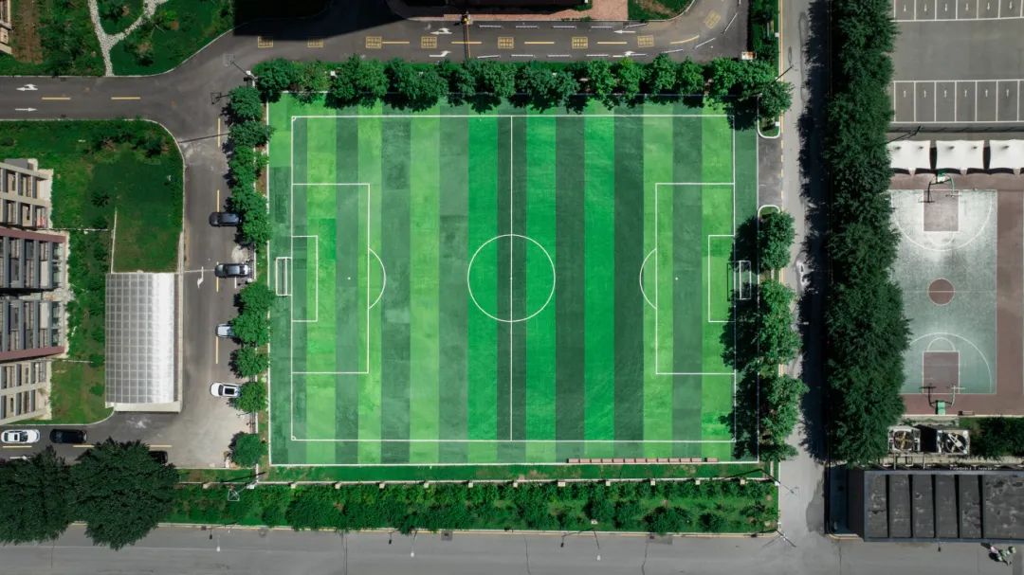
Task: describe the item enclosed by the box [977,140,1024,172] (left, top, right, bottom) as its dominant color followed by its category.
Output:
white tent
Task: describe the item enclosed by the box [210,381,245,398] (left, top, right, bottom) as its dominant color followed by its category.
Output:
white car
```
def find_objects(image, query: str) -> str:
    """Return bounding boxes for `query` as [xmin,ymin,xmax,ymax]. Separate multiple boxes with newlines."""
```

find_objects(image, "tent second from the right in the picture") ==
[926,140,983,172]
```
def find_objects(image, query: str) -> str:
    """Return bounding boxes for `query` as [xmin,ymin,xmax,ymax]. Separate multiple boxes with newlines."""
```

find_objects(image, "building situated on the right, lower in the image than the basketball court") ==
[849,461,1024,552]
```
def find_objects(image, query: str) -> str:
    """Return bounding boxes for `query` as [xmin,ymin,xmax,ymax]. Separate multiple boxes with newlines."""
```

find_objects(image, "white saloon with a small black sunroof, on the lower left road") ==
[2,429,40,446]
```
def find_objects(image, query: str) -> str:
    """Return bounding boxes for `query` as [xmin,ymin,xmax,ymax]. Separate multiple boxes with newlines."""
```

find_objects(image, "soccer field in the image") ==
[270,94,758,465]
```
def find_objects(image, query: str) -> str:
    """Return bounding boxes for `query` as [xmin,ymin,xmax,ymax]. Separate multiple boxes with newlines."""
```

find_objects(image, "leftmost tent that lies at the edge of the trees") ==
[887,140,930,172]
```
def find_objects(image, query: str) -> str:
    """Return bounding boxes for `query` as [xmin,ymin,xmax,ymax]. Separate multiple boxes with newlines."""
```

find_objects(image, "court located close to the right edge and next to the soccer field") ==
[878,170,1024,415]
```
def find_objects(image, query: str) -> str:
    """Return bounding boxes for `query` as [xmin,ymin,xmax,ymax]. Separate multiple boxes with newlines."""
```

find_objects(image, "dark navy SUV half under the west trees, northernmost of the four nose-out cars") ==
[209,210,244,227]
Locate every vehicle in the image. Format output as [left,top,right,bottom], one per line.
[2,429,40,446]
[216,262,252,279]
[50,429,88,446]
[209,210,244,227]
[217,323,234,339]
[210,381,245,398]
[137,449,173,464]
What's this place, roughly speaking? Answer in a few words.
sports ground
